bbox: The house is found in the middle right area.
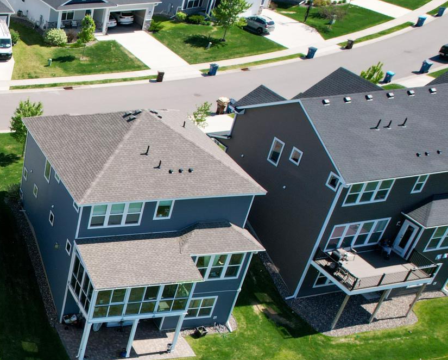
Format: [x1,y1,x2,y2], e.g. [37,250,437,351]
[209,60,448,329]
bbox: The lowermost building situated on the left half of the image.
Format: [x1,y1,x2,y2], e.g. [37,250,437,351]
[22,106,267,360]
